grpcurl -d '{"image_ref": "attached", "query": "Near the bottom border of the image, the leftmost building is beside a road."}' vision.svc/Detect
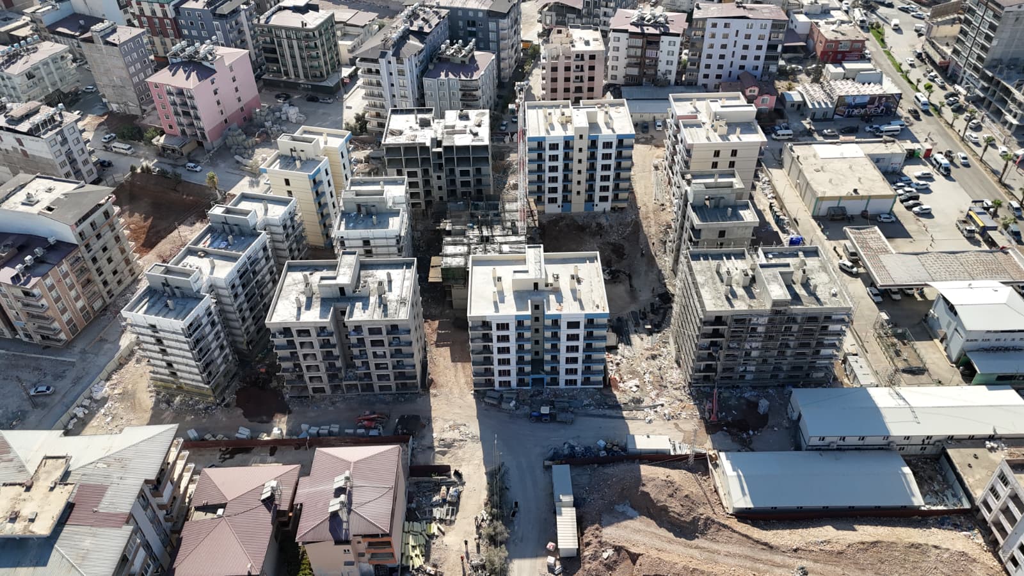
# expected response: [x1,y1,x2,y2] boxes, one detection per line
[0,422,216,576]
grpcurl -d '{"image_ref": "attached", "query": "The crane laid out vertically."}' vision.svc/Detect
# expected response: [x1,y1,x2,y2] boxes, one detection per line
[514,60,530,253]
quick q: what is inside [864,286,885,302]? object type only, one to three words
vehicle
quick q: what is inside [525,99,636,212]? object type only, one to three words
building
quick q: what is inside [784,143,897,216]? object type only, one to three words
building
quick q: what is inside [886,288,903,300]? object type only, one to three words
vehicle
